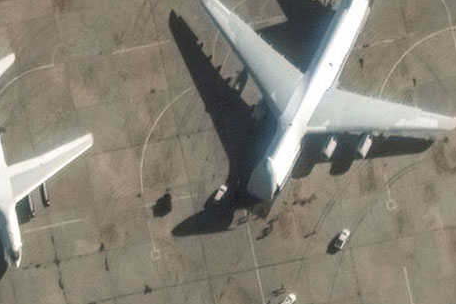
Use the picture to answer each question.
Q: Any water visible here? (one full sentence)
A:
No, the scene doesn't show any water.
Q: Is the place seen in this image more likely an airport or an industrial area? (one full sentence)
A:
It's an airport.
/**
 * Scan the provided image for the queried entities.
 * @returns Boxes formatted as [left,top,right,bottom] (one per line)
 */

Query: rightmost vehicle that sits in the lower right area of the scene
[334,230,350,251]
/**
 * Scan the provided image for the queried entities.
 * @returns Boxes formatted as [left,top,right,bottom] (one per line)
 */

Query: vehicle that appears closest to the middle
[213,184,228,204]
